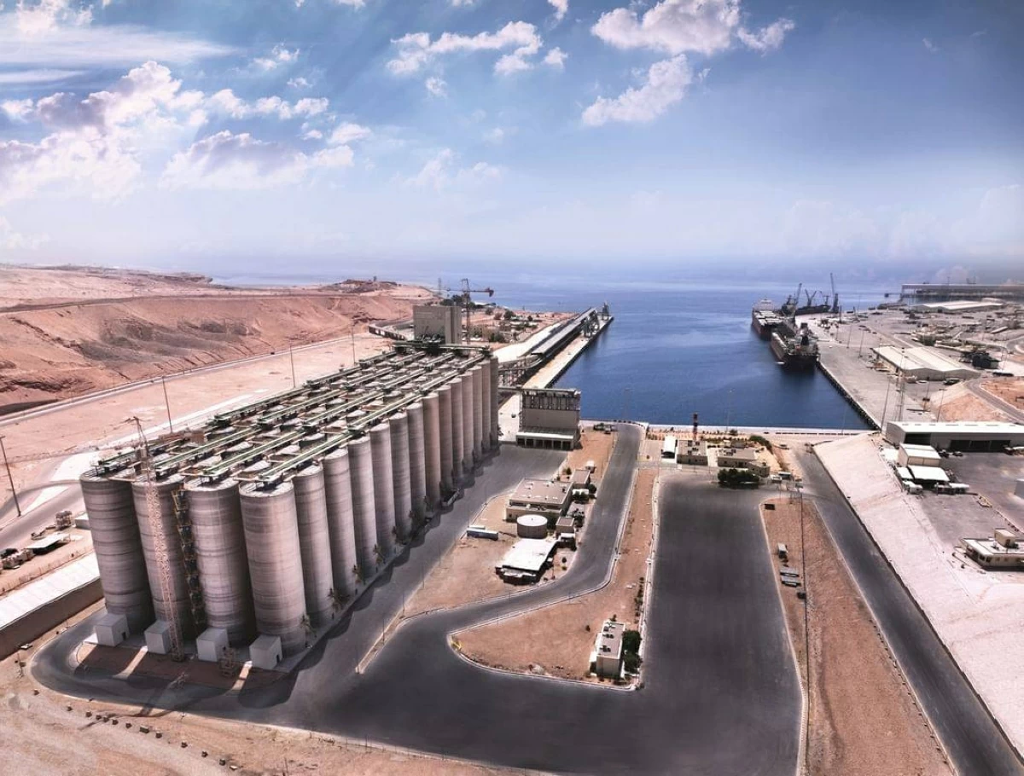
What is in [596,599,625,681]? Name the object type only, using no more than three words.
building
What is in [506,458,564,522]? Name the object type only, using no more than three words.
building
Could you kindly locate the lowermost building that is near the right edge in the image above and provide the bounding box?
[964,528,1024,570]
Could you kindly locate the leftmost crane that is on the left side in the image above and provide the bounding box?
[102,417,189,664]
